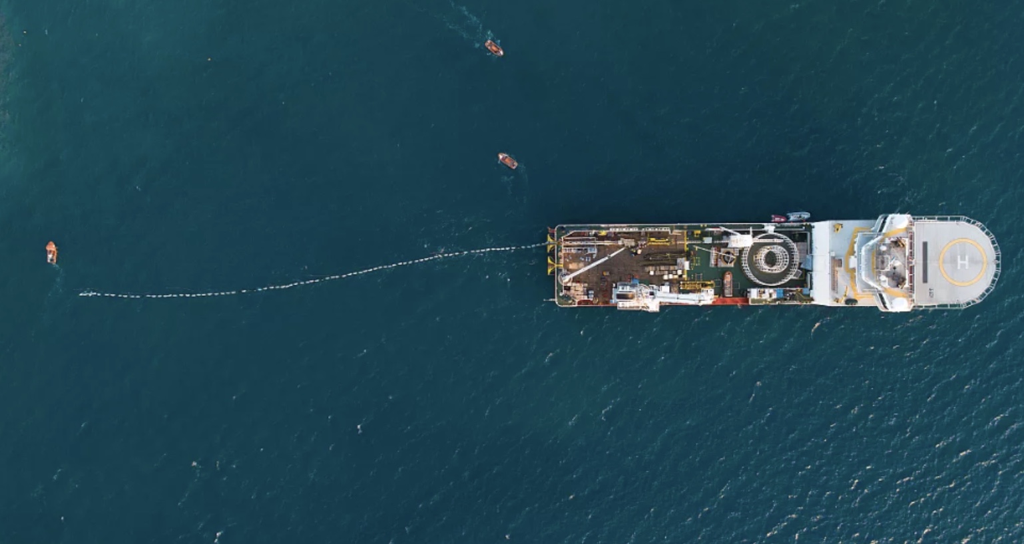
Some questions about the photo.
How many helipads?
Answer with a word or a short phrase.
one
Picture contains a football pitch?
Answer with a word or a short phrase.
No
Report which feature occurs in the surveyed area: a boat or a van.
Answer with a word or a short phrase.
boat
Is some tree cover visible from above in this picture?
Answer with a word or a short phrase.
No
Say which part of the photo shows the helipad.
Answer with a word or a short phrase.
right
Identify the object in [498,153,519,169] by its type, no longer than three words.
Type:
boat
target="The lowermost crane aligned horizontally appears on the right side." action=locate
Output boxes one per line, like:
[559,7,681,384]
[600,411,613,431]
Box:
[612,281,714,311]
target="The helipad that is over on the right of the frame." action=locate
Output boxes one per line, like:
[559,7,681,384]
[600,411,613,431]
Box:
[911,216,1001,309]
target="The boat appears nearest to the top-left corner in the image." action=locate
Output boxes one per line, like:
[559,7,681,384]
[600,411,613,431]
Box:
[44,241,57,265]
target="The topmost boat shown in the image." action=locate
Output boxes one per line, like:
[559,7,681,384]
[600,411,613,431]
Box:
[483,37,504,54]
